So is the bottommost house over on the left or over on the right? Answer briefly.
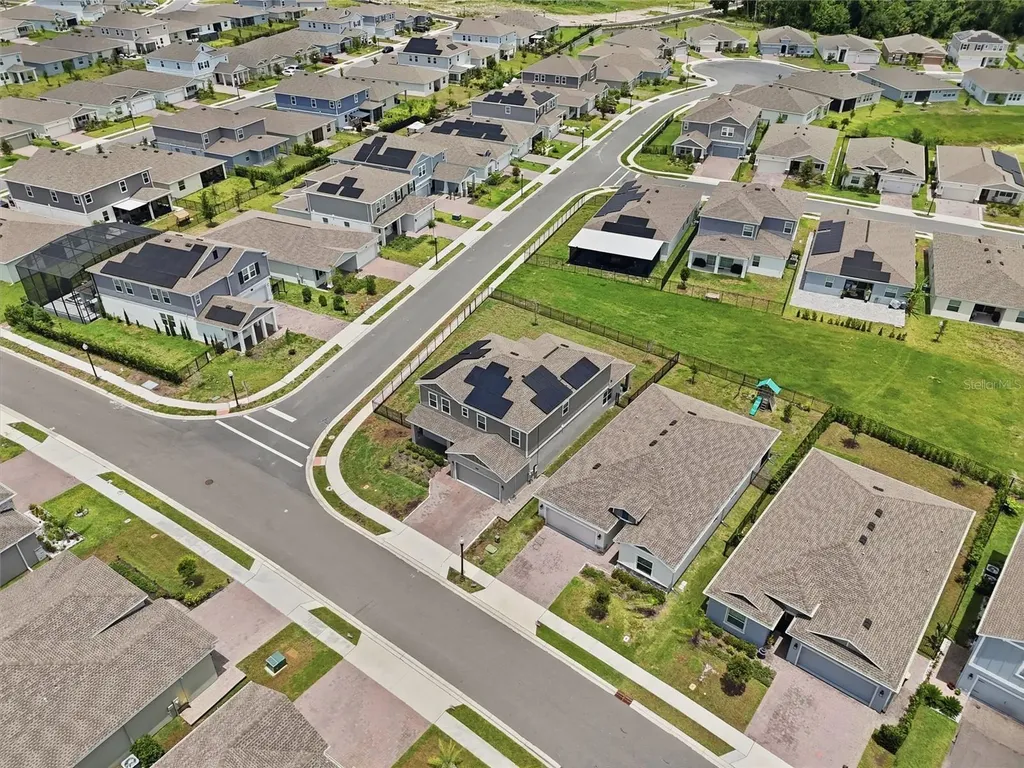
left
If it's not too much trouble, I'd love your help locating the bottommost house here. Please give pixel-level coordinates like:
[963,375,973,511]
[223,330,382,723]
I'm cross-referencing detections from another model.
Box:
[149,680,333,768]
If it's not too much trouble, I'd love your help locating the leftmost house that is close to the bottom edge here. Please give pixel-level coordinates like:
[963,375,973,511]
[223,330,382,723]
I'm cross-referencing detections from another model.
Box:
[0,547,224,768]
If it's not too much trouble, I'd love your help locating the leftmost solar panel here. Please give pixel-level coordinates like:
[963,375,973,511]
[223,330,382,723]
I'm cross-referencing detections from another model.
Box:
[101,243,208,288]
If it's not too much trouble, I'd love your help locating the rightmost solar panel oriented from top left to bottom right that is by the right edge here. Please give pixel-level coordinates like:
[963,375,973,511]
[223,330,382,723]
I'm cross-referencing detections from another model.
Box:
[992,150,1024,190]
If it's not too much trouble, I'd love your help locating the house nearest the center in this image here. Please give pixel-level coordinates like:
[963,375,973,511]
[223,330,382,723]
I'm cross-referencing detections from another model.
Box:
[402,332,637,503]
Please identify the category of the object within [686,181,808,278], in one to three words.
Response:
house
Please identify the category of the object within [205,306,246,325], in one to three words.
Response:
solar panel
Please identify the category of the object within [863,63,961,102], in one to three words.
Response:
house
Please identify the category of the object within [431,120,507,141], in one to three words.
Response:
solar panel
